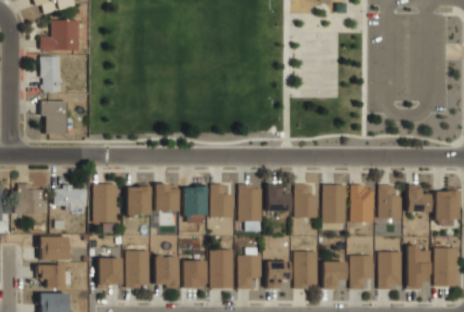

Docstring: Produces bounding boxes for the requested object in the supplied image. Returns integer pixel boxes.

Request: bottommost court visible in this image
[298,33,340,98]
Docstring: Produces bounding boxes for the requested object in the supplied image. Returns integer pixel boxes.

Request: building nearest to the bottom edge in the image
[42,294,72,312]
